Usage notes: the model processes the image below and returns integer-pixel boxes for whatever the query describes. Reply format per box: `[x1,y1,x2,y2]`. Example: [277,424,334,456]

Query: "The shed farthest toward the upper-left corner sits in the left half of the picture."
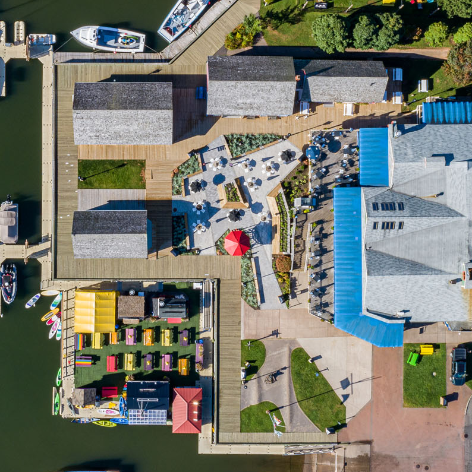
[70,82,173,145]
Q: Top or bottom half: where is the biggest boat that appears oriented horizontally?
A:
top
